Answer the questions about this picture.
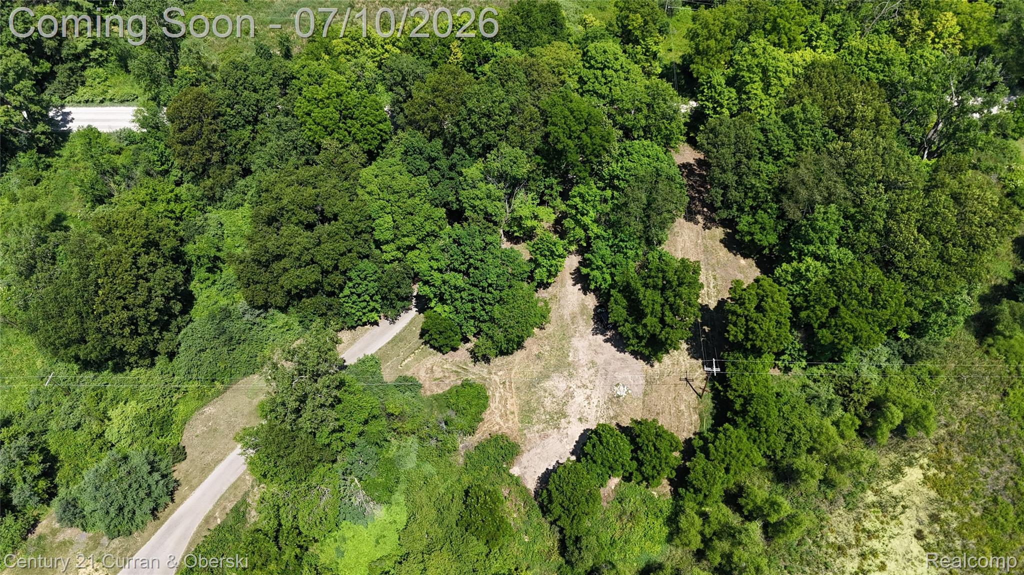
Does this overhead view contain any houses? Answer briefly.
No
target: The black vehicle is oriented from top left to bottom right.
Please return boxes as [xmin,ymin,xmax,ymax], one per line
[594,309,613,328]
